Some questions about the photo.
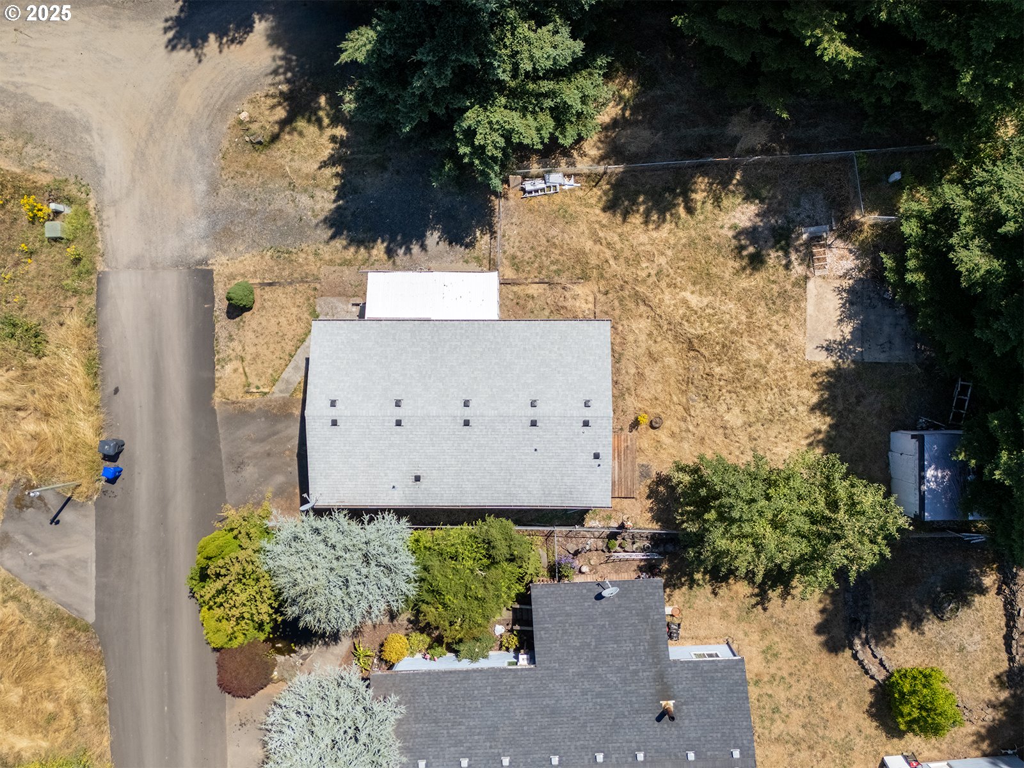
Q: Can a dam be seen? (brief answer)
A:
No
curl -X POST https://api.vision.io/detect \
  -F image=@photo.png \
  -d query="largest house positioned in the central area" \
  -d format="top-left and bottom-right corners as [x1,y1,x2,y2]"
[302,317,615,512]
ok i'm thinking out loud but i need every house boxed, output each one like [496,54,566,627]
[302,317,615,512]
[367,573,761,768]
